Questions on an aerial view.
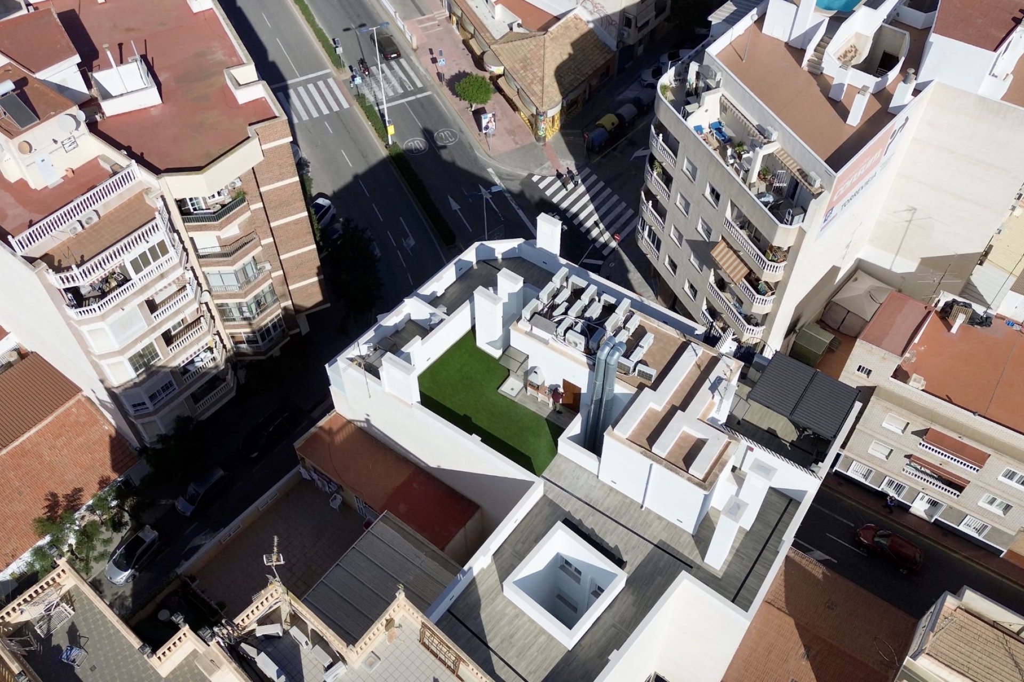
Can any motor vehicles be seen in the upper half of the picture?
Yes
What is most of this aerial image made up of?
buildings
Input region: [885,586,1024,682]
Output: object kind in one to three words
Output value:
house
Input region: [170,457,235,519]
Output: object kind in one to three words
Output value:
car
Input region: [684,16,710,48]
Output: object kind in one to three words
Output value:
car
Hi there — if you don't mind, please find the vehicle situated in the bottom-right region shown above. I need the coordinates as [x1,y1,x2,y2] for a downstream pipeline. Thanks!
[854,519,938,577]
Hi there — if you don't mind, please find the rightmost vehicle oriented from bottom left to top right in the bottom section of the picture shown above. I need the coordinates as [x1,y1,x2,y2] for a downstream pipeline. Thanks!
[237,399,300,458]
